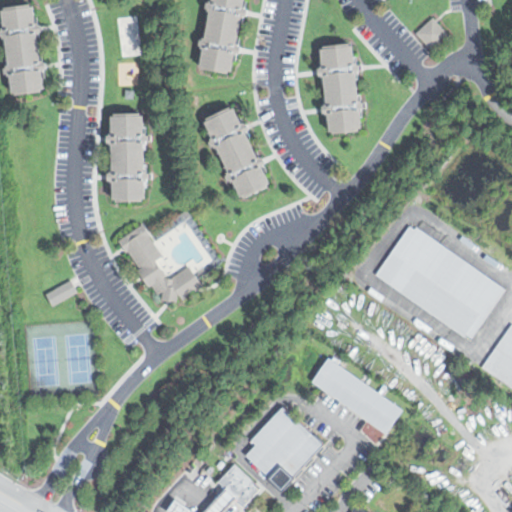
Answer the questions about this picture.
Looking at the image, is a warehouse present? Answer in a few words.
Yes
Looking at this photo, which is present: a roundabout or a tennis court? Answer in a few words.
tennis court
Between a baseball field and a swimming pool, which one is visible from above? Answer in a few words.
swimming pool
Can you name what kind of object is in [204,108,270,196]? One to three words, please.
building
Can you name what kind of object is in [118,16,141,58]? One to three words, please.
sports court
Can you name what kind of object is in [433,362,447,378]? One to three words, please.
boat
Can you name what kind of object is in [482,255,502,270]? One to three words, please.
vehicle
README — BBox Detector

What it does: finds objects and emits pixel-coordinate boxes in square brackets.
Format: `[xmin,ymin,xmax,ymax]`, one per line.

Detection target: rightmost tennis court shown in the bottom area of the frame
[66,334,92,384]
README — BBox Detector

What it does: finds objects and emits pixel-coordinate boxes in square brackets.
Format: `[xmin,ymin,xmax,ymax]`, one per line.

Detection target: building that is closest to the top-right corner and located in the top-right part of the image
[416,18,444,46]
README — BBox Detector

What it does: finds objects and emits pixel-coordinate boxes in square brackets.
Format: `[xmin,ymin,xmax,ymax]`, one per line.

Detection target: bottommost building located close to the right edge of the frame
[482,323,512,388]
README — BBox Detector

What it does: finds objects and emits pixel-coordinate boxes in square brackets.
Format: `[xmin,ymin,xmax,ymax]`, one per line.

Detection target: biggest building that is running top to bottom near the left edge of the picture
[0,6,47,94]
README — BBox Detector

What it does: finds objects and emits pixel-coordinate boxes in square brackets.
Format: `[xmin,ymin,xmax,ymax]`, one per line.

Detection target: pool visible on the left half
[154,222,213,278]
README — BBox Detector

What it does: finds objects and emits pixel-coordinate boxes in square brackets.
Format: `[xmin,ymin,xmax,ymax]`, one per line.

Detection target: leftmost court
[33,337,59,386]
